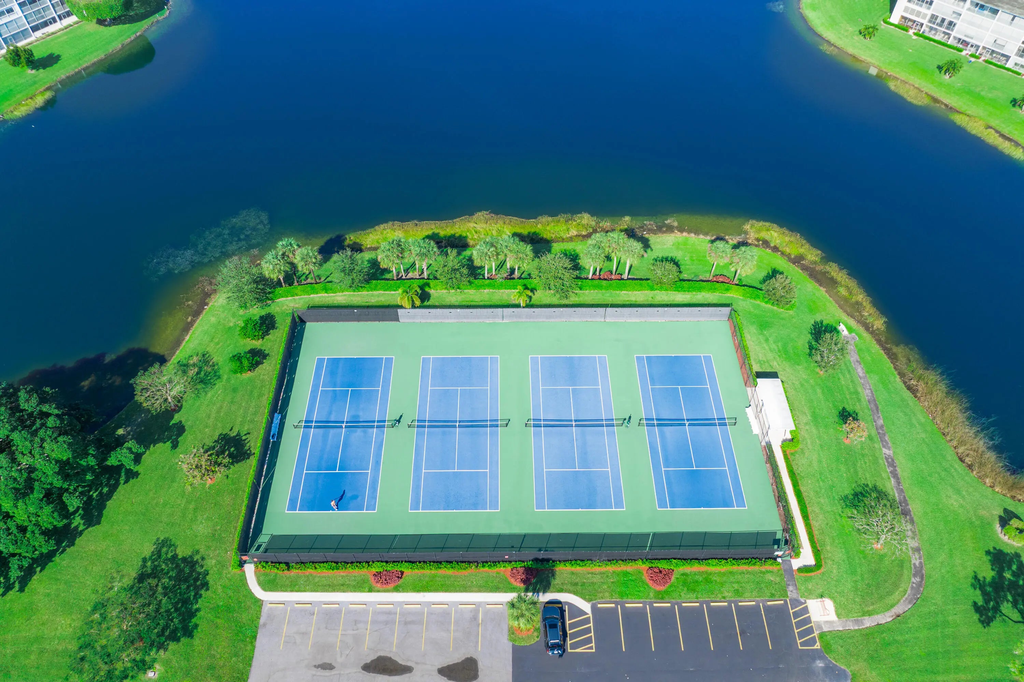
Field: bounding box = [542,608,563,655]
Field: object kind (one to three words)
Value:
car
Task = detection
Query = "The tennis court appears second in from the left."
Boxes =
[409,356,499,512]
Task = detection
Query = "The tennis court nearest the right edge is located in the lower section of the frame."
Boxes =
[635,355,747,509]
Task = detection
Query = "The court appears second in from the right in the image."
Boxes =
[530,355,625,510]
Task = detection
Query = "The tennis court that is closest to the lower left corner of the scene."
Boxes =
[285,356,394,513]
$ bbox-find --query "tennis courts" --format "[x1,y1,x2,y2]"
[409,356,499,512]
[635,355,747,509]
[530,355,625,510]
[285,356,394,513]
